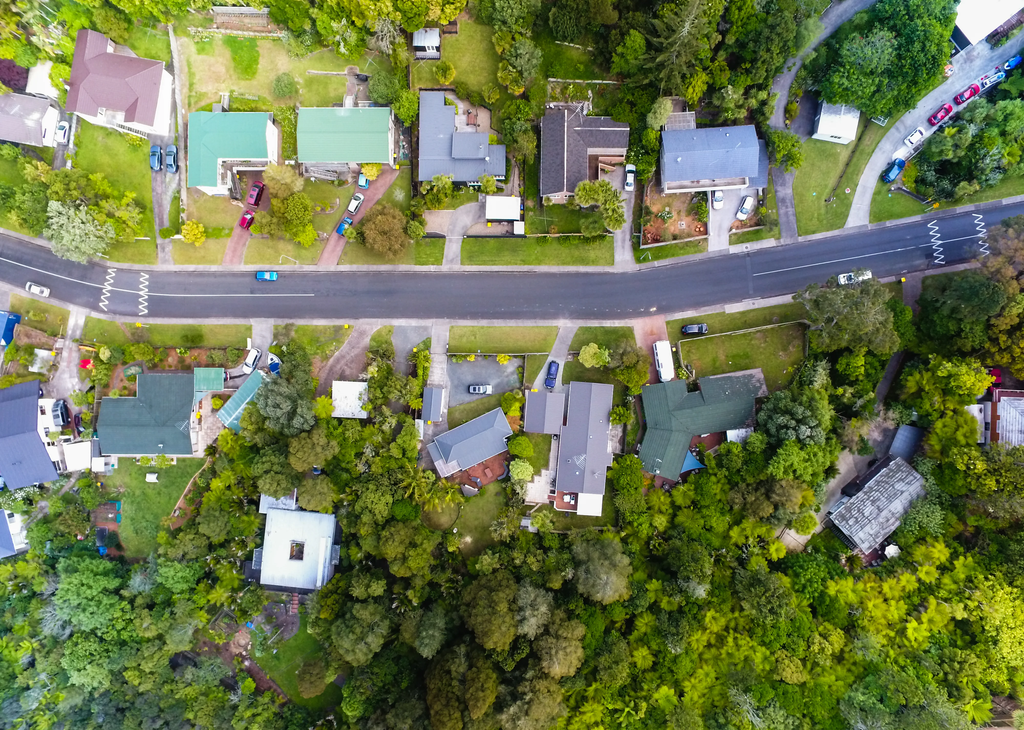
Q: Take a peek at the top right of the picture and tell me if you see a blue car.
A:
Yes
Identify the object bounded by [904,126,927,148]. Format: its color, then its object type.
white car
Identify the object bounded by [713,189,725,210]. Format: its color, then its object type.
white vehicle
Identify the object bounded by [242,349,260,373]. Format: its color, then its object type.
white car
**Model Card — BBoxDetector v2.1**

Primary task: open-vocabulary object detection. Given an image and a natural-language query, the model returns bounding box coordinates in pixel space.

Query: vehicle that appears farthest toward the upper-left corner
[56,121,70,144]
